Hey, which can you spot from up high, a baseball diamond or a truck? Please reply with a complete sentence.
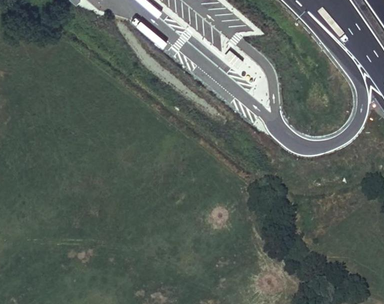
Of the two, only a truck appears.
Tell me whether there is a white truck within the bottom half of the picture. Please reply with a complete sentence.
No, no white truck can be made out within the bottom half of the picture.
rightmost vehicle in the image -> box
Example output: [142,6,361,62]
[318,6,350,42]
